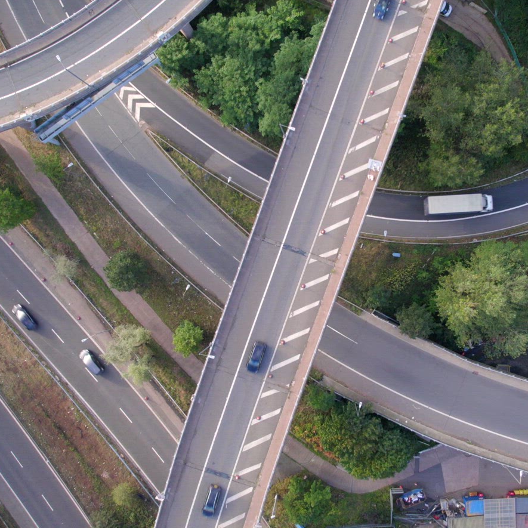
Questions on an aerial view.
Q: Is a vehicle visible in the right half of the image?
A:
Yes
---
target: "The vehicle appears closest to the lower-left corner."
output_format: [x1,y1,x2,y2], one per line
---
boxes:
[78,347,106,376]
